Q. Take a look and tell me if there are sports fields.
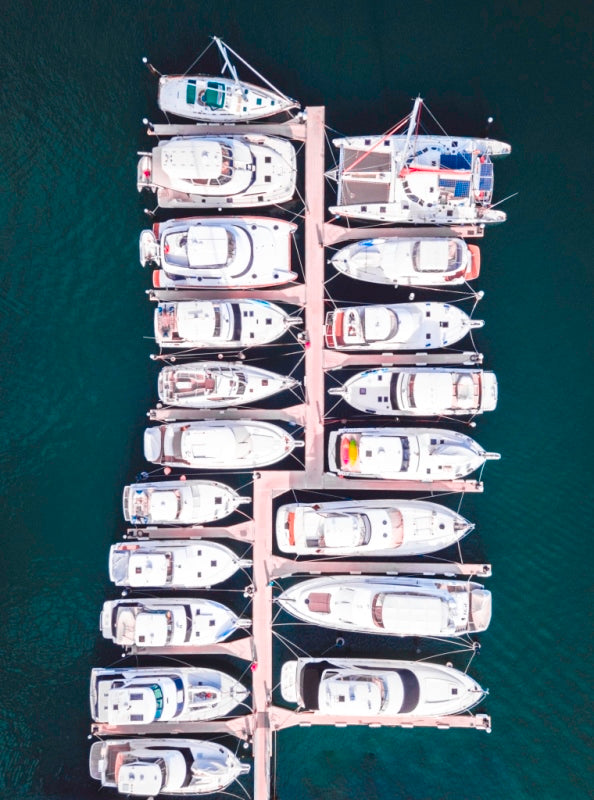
No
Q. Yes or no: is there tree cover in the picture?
No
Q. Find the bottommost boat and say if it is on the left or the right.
left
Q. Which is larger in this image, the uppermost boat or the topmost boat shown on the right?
the topmost boat shown on the right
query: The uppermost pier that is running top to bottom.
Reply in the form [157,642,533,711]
[305,106,325,471]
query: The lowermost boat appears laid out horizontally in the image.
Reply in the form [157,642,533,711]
[90,733,252,800]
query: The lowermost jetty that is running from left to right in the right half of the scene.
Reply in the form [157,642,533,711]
[272,706,491,731]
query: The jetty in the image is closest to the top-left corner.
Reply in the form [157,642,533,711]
[148,115,305,141]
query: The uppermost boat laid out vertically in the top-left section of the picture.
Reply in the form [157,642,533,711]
[136,154,155,194]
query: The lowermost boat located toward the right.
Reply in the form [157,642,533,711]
[272,628,491,720]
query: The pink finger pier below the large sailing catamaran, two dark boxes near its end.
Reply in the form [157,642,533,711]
[324,223,484,246]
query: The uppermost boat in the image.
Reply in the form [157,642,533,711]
[148,32,304,125]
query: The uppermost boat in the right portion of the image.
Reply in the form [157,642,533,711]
[324,91,518,228]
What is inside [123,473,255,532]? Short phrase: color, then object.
white boat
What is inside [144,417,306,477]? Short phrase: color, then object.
white boat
